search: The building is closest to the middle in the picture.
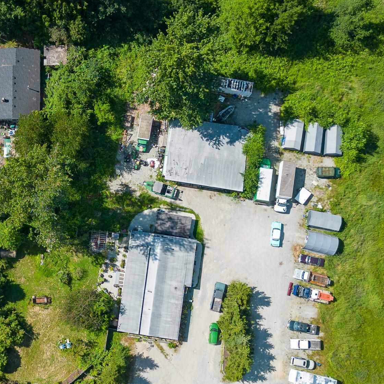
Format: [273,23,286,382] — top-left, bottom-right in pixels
[163,120,249,193]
